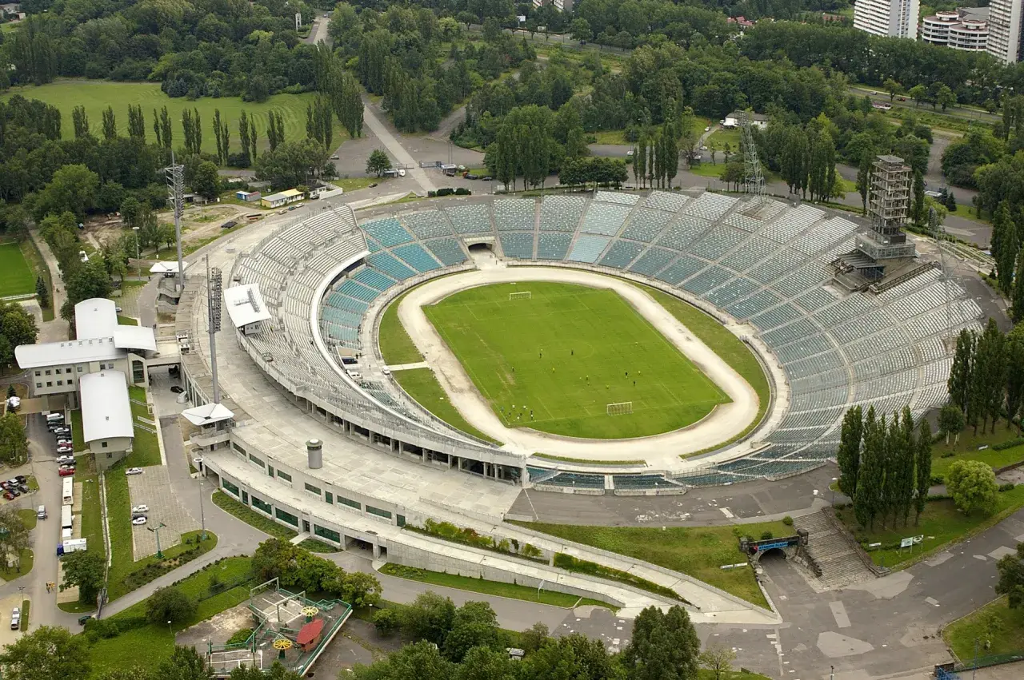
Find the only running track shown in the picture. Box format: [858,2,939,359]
[398,268,759,462]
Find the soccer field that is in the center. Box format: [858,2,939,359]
[421,281,732,438]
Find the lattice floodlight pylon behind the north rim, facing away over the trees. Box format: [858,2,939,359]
[737,99,765,199]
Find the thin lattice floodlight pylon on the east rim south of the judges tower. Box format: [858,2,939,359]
[932,194,962,300]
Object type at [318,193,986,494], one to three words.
stadium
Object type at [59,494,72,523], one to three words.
vehicle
